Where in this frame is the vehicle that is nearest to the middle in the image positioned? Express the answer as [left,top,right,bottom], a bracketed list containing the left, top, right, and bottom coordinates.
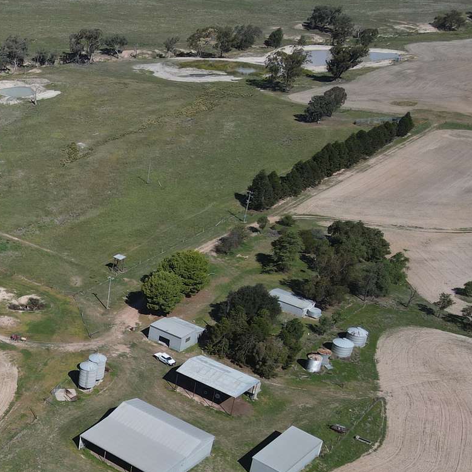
[151,349,179,366]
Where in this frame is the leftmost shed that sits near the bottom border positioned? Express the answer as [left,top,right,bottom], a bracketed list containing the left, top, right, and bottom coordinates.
[78,397,216,472]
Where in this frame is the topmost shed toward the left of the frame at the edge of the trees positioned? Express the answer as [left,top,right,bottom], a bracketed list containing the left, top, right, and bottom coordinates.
[149,312,206,352]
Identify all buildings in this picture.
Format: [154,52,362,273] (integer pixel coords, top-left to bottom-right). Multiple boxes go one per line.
[175,355,259,413]
[149,312,206,352]
[78,397,216,472]
[250,423,326,472]
[266,286,317,317]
